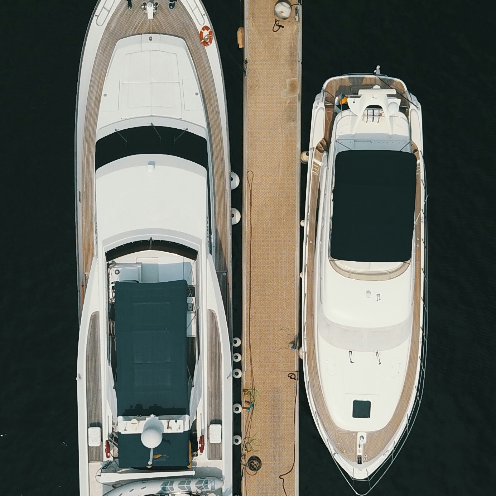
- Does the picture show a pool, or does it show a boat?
boat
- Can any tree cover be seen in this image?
No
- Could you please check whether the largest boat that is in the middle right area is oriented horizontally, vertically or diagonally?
vertically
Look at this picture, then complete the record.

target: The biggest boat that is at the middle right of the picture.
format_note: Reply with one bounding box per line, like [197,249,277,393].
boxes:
[300,64,428,495]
